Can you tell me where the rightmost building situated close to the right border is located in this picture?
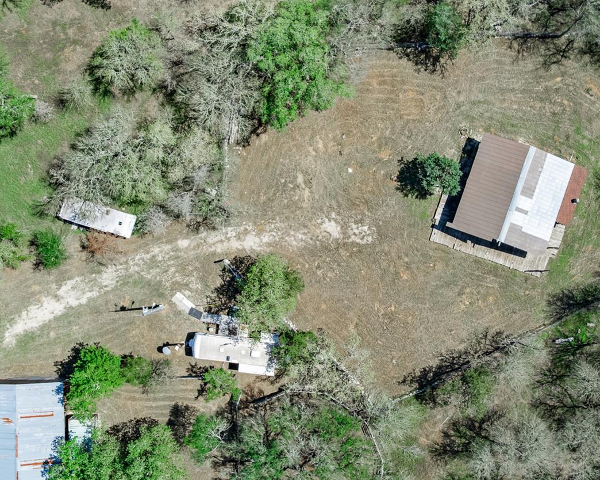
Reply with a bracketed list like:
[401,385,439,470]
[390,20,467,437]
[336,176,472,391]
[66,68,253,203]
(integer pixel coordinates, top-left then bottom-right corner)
[446,135,587,256]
